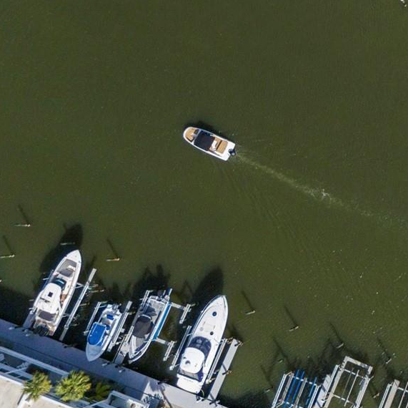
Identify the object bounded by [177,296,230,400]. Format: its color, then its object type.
white boat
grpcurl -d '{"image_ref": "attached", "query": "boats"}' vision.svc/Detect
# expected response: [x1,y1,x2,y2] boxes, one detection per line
[84,301,124,361]
[29,250,84,341]
[183,129,237,161]
[177,296,230,400]
[126,288,172,362]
